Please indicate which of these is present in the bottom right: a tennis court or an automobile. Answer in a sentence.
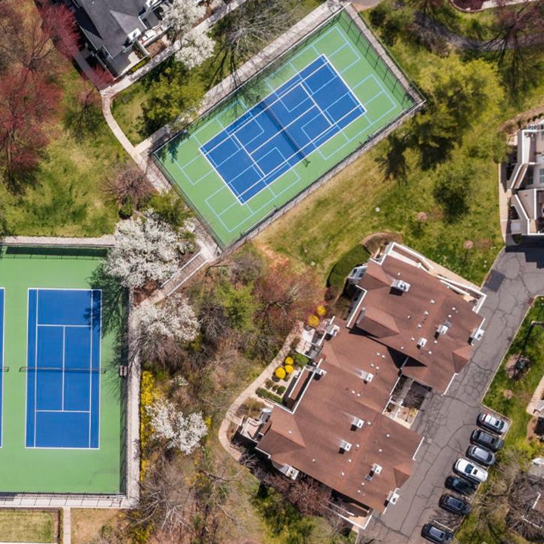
It is an automobile that can be seen in the bottom right.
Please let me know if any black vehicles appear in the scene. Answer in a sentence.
Yes, a black vehicle appears in the view.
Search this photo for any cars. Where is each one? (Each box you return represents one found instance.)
[442,473,478,499]
[462,442,496,468]
[435,492,472,517]
[452,458,489,483]
[474,411,511,435]
[468,428,504,453]
[419,522,455,544]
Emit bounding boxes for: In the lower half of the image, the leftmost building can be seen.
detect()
[234,242,487,531]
